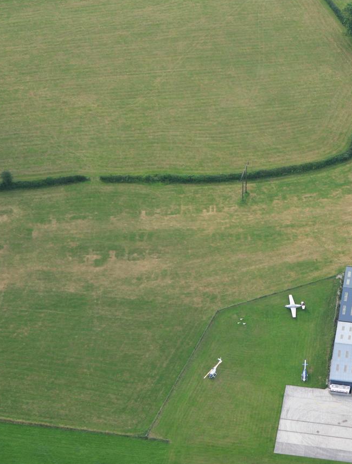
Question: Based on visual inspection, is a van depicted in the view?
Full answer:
No, the photo shows no van.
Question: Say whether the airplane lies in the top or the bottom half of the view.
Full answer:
It is in the bottom half that the airplane appears.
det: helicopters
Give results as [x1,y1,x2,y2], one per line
[301,359,308,382]
[208,358,222,380]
